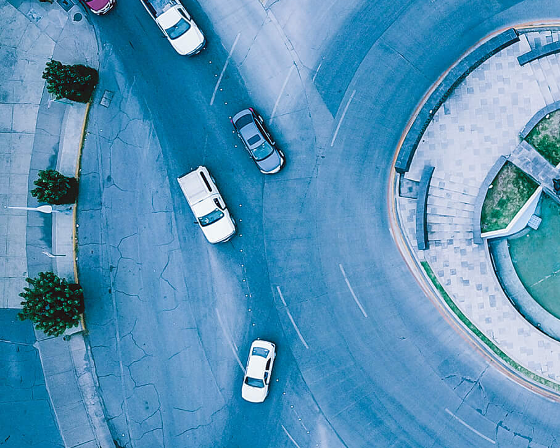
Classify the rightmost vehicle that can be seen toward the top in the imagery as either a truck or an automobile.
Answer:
automobile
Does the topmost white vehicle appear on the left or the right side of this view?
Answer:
left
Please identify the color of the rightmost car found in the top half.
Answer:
blue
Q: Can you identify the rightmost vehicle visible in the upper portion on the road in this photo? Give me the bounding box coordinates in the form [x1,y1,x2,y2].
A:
[231,104,285,176]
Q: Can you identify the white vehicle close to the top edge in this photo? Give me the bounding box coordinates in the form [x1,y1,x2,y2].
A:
[141,0,205,56]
